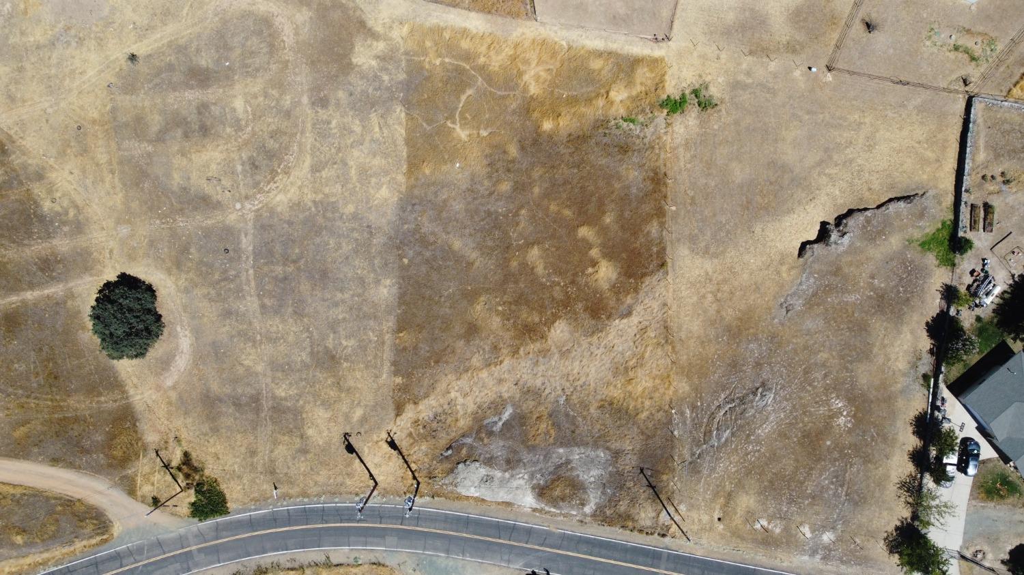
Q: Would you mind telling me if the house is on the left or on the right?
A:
right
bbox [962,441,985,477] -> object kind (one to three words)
car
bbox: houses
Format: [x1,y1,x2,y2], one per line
[955,348,1024,468]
